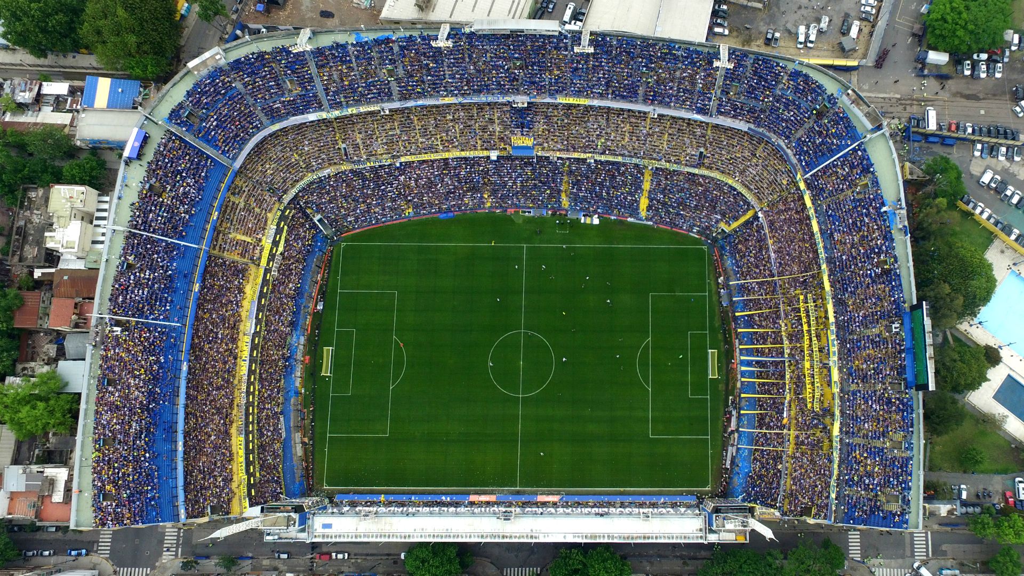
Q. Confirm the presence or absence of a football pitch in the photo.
Yes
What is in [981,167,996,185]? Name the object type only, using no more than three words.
vehicle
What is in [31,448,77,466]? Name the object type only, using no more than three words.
house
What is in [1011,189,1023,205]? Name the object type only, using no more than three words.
vehicle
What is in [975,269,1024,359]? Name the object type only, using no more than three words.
swimming pool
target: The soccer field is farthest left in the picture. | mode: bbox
[313,211,721,489]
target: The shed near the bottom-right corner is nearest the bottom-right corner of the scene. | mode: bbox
[922,502,960,517]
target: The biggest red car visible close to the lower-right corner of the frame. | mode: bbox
[1005,491,1018,509]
